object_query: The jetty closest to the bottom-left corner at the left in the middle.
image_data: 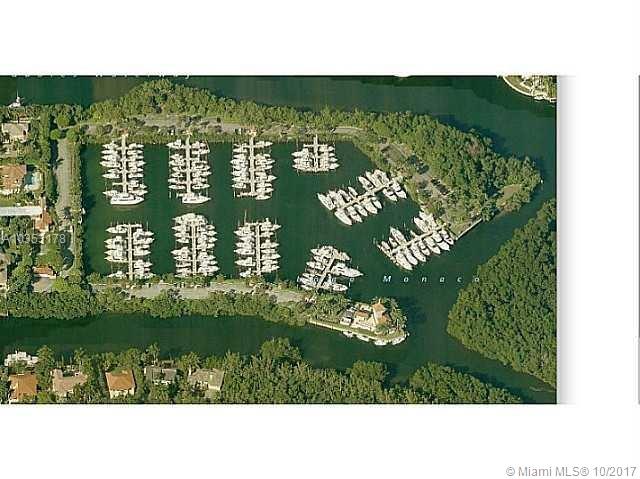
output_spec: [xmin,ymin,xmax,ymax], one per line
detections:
[114,224,145,285]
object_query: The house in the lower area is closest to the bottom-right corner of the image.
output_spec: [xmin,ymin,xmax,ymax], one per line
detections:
[354,302,394,331]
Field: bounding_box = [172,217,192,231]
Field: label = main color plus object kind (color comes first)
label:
white boat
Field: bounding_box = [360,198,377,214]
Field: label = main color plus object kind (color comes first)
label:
white boat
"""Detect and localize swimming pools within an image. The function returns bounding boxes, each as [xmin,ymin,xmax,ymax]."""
[27,174,41,187]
